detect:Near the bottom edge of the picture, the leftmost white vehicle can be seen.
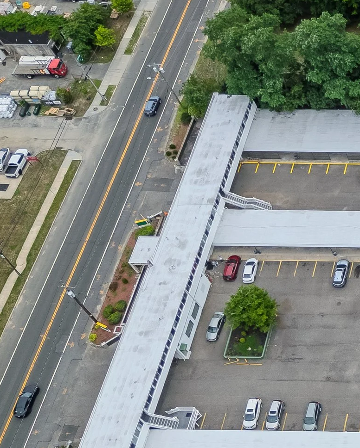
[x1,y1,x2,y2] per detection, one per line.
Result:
[241,397,264,431]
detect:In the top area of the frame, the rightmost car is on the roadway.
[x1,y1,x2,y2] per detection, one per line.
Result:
[142,94,164,118]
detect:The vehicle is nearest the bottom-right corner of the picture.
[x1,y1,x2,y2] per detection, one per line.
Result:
[301,399,323,432]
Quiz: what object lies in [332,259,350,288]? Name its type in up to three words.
car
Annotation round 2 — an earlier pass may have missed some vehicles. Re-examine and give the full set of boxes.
[264,398,285,431]
[241,397,264,431]
[301,399,323,432]
[222,255,242,283]
[15,385,41,419]
[0,149,12,173]
[332,259,350,288]
[2,148,32,179]
[241,257,260,286]
[205,311,226,343]
[142,94,164,118]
